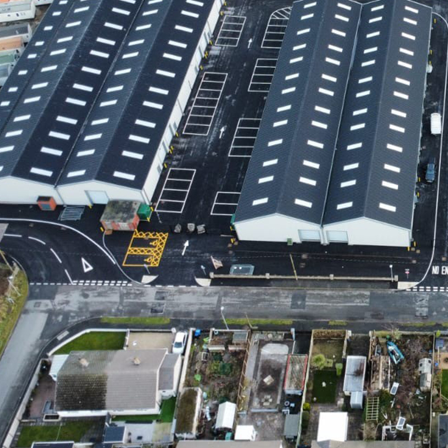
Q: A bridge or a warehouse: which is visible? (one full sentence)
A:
Of the two, only a warehouse appears.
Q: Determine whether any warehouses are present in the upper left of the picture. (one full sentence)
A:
Yes, you'll find a warehouse in the upper left of the picture.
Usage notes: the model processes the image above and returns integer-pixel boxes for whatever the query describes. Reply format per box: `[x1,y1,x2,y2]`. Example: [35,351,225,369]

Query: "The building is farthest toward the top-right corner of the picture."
[233,0,434,249]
